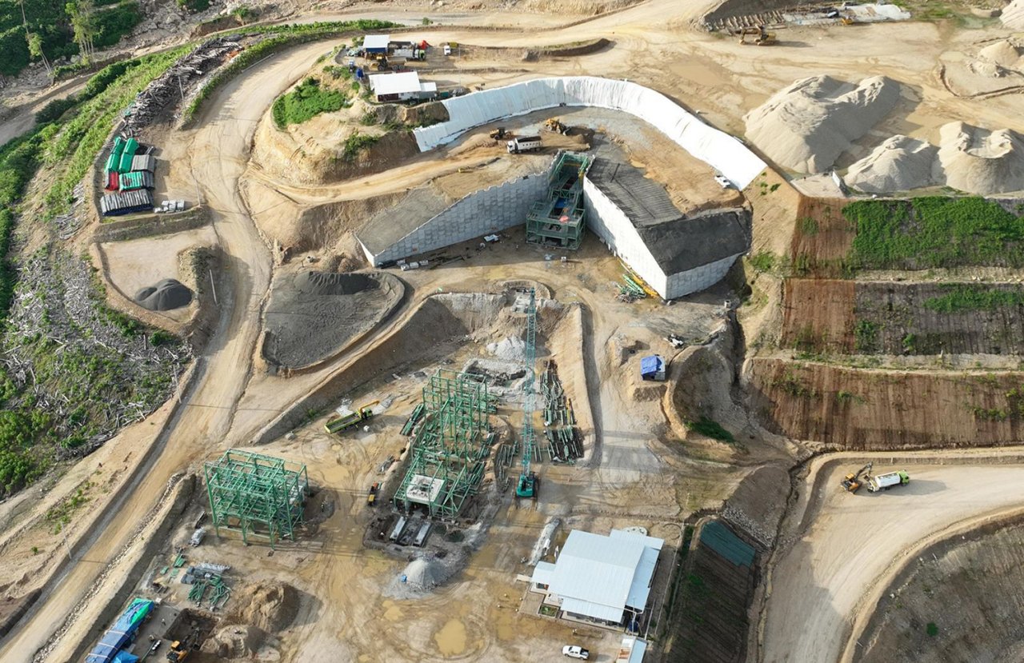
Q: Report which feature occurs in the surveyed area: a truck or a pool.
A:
truck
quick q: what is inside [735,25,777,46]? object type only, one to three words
work vehicle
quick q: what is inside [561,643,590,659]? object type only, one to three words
vehicle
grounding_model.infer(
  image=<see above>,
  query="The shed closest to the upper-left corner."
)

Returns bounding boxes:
[362,34,389,63]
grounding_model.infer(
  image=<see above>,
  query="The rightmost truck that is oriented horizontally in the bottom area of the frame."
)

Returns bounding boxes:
[867,468,913,492]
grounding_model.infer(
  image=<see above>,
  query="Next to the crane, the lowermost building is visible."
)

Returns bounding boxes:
[528,529,664,632]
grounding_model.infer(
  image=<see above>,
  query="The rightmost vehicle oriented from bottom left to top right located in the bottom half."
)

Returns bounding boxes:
[843,447,875,491]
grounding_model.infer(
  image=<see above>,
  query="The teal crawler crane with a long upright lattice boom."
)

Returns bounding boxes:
[514,284,543,501]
